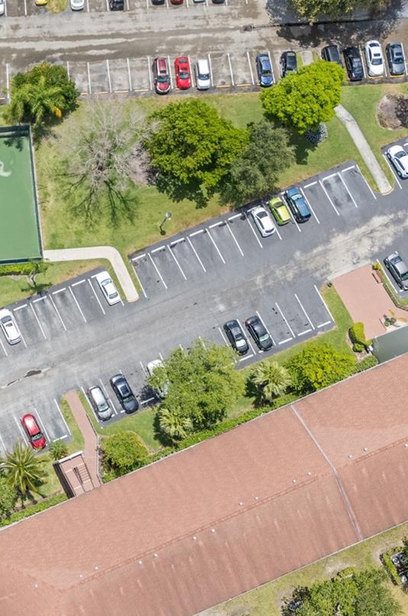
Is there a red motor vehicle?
Yes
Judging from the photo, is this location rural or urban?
urban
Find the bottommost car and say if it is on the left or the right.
left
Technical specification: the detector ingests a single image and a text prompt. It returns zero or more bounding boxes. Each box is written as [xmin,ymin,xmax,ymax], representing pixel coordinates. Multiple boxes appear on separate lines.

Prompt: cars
[343,47,365,81]
[388,146,408,179]
[87,386,112,422]
[20,411,48,452]
[34,0,47,6]
[152,59,172,93]
[173,56,193,92]
[284,187,313,224]
[109,0,124,8]
[267,197,292,229]
[194,60,212,90]
[322,46,342,78]
[384,42,406,77]
[364,42,384,77]
[69,0,84,11]
[0,309,22,346]
[249,205,278,241]
[221,319,250,357]
[383,254,408,291]
[0,0,6,16]
[245,315,273,354]
[95,270,121,308]
[278,49,298,73]
[110,374,139,413]
[255,54,273,87]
